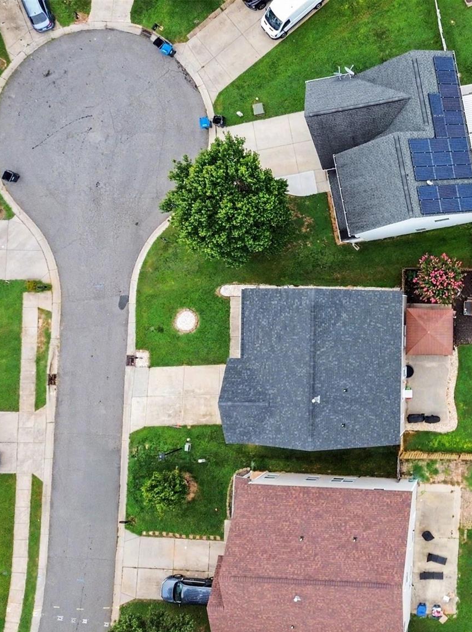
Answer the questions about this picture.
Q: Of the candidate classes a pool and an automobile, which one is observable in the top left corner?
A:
automobile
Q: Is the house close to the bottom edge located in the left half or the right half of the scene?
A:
right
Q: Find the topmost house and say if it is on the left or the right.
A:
right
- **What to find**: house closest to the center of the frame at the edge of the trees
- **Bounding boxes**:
[218,288,405,451]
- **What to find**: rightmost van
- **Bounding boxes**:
[260,0,326,42]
